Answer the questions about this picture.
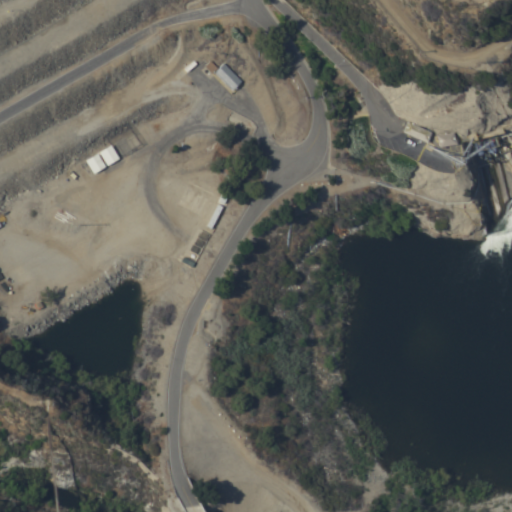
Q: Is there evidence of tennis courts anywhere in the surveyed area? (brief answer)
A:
No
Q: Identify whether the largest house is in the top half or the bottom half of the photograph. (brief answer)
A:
top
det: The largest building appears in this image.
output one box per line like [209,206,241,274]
[214,62,244,94]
